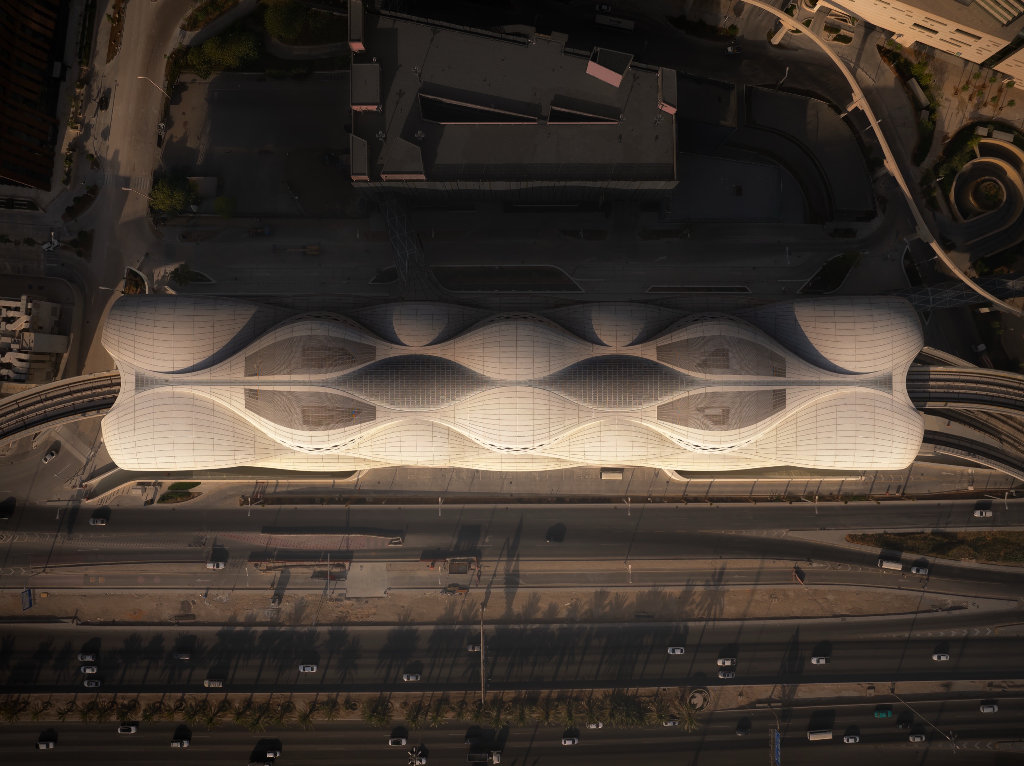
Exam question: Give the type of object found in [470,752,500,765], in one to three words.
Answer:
vehicle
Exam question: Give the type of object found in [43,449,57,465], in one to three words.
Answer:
car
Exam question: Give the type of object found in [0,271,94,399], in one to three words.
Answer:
building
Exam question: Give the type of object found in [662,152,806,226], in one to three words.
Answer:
building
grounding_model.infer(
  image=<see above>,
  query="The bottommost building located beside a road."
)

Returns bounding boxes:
[448,561,471,575]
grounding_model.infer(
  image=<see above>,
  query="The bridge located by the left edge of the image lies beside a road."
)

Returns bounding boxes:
[0,369,123,447]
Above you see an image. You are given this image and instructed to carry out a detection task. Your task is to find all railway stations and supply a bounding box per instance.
[102,268,924,472]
